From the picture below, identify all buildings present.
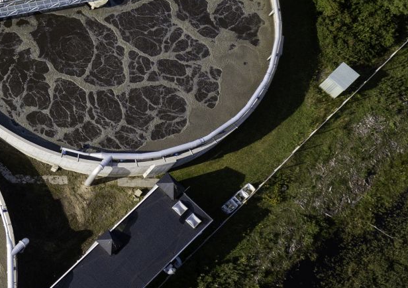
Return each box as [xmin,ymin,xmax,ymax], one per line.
[38,177,208,288]
[313,60,361,104]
